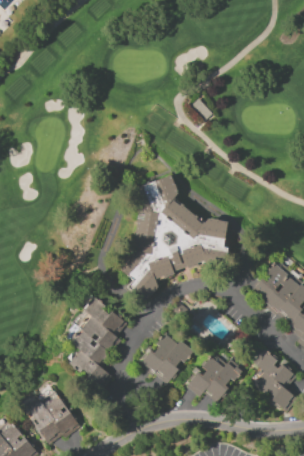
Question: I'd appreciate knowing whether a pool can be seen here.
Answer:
Yes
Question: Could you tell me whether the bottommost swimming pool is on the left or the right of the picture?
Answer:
right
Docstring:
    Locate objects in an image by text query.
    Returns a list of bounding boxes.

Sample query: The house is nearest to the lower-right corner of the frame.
[255,351,296,408]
